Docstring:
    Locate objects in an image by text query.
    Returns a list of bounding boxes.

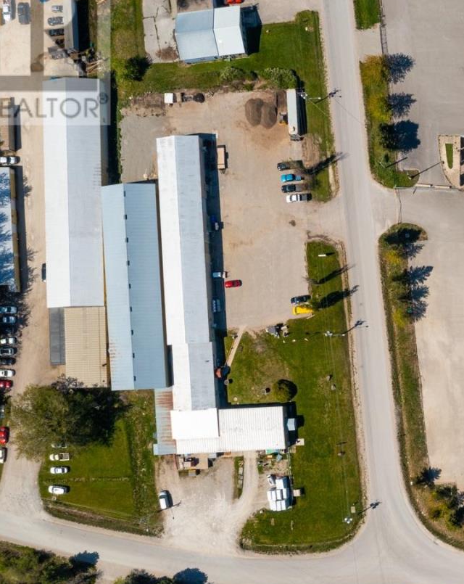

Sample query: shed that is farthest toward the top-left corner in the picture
[62,0,81,54]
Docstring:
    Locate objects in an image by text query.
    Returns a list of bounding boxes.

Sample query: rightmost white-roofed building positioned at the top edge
[212,6,251,61]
